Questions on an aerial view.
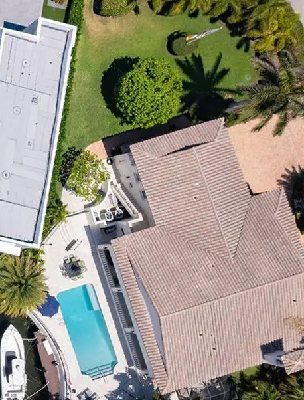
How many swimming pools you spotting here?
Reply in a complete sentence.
I count 1 swimming pool.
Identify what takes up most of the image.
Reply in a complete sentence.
For the most part, this view shows buildings.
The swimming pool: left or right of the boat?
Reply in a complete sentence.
From the viewer's perspective, the swimming pool falls to the right of the boat.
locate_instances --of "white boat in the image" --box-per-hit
[0,325,38,400]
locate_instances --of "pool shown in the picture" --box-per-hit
[57,283,119,382]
